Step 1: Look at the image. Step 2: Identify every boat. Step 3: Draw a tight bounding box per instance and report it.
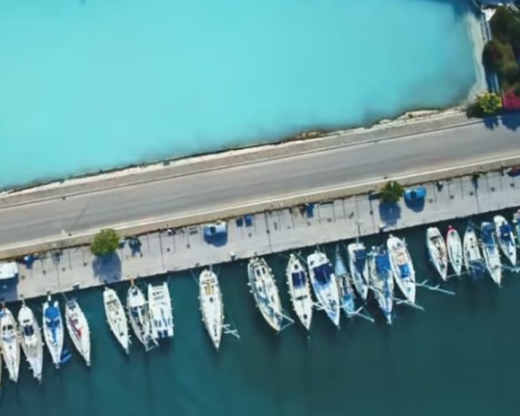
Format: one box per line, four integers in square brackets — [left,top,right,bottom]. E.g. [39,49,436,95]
[248,253,295,332]
[368,231,432,325]
[283,250,325,331]
[348,234,389,300]
[328,241,369,317]
[196,262,242,352]
[102,281,130,355]
[460,214,509,277]
[41,291,65,370]
[0,299,22,383]
[306,242,371,329]
[383,227,459,305]
[126,276,153,352]
[478,209,520,288]
[491,207,520,267]
[17,296,46,384]
[424,220,468,281]
[64,287,91,367]
[445,217,483,276]
[146,271,175,338]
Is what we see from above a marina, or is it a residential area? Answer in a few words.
marina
